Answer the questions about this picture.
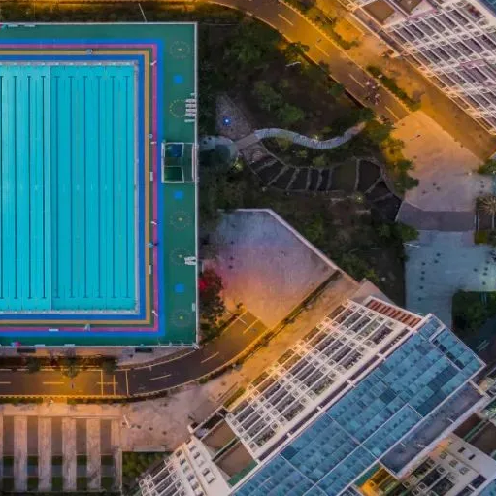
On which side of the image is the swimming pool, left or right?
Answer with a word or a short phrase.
left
